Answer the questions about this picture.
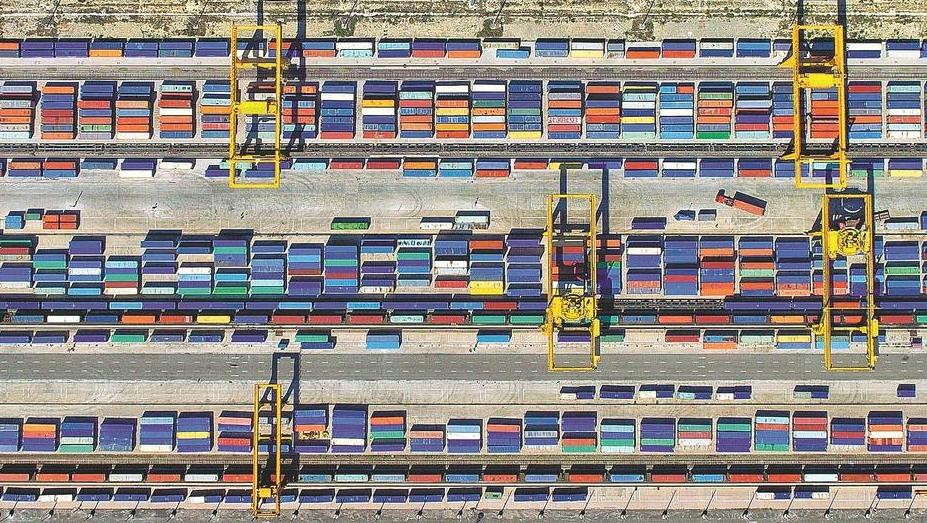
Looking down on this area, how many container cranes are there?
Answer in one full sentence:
Altogether the scene contains 5 container cranes.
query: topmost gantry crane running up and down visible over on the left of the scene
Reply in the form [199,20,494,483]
[229,25,298,187]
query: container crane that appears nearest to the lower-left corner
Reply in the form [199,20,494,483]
[249,385,297,516]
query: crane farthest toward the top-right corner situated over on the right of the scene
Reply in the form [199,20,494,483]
[771,26,847,188]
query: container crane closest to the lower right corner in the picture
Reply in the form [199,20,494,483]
[800,192,880,368]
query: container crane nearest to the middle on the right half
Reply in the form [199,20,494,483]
[534,193,604,369]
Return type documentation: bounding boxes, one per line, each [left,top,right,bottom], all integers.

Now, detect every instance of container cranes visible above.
[534,193,604,369]
[771,26,847,188]
[249,385,297,516]
[229,25,298,187]
[800,192,880,368]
